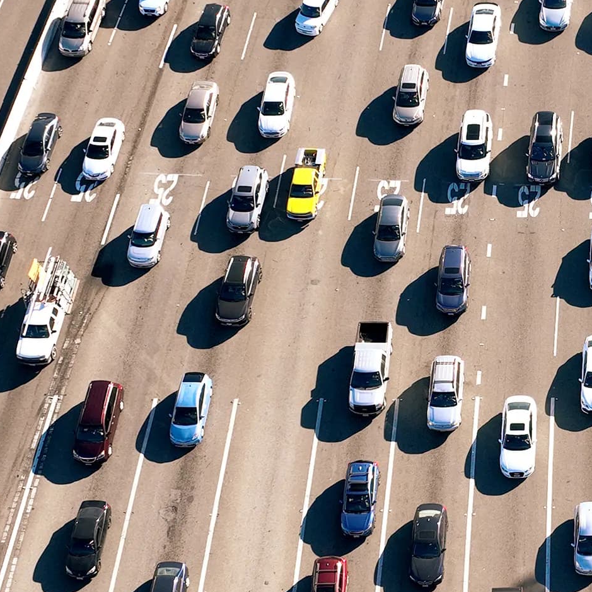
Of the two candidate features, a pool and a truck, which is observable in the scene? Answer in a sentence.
It is a truck that can be seen here.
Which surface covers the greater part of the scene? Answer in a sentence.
For the most part, this view shows paved ground.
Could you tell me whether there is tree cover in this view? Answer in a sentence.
No, there is no tree cover in the image.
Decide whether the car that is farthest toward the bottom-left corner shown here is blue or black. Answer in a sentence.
In this view, the car that is farthest toward the bottom-left corner is black.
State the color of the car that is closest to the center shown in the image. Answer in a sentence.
The car that is closest to the center is black.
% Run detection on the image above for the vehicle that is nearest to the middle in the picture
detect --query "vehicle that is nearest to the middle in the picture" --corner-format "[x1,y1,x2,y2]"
[214,255,261,328]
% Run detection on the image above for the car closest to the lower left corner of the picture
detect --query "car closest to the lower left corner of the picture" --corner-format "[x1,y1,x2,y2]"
[61,496,115,583]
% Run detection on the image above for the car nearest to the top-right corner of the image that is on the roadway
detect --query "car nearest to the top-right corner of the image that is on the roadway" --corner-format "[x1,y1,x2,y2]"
[538,0,571,33]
